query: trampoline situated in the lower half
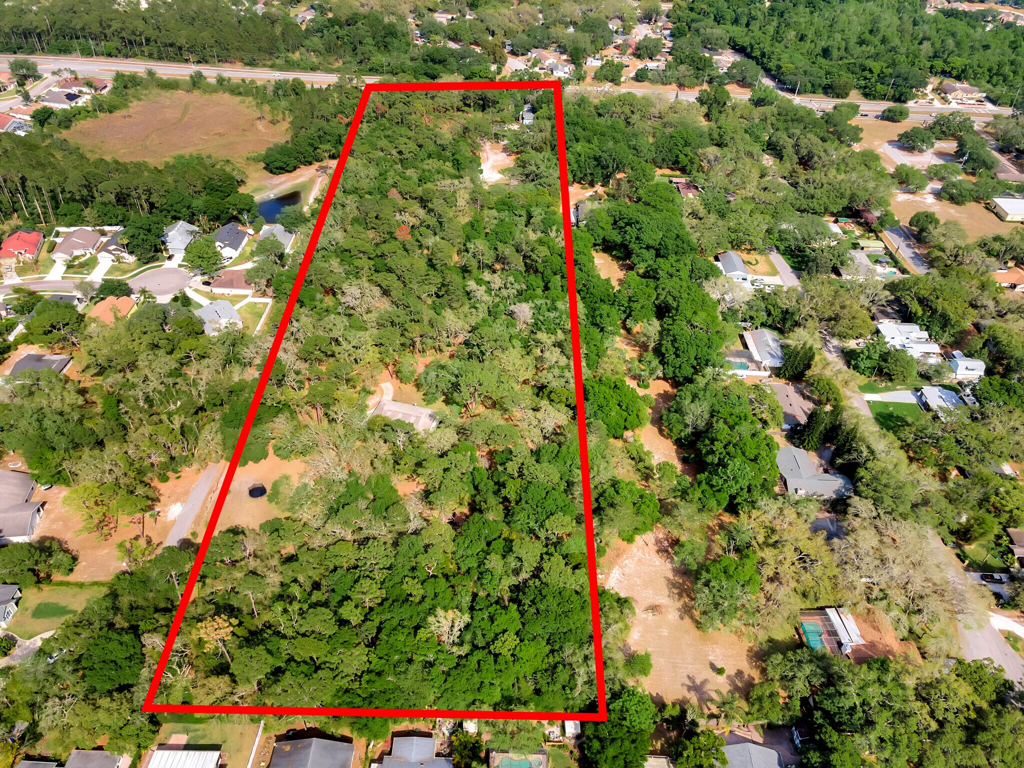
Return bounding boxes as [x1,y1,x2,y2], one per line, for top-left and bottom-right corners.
[246,481,267,501]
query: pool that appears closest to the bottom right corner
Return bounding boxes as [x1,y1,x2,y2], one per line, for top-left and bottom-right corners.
[800,611,843,653]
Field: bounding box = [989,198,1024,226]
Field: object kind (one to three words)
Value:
building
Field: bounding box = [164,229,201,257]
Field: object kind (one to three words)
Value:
house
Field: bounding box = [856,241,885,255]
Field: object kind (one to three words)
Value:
shed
